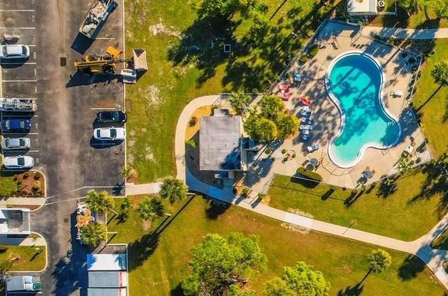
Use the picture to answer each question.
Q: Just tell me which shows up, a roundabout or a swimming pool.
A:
swimming pool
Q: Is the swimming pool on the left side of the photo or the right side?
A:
right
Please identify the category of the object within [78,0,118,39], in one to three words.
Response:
trailer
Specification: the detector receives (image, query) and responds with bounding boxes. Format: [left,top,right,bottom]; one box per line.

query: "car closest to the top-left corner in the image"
[0,44,29,59]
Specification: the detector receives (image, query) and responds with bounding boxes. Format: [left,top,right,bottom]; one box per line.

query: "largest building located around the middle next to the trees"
[198,107,251,178]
